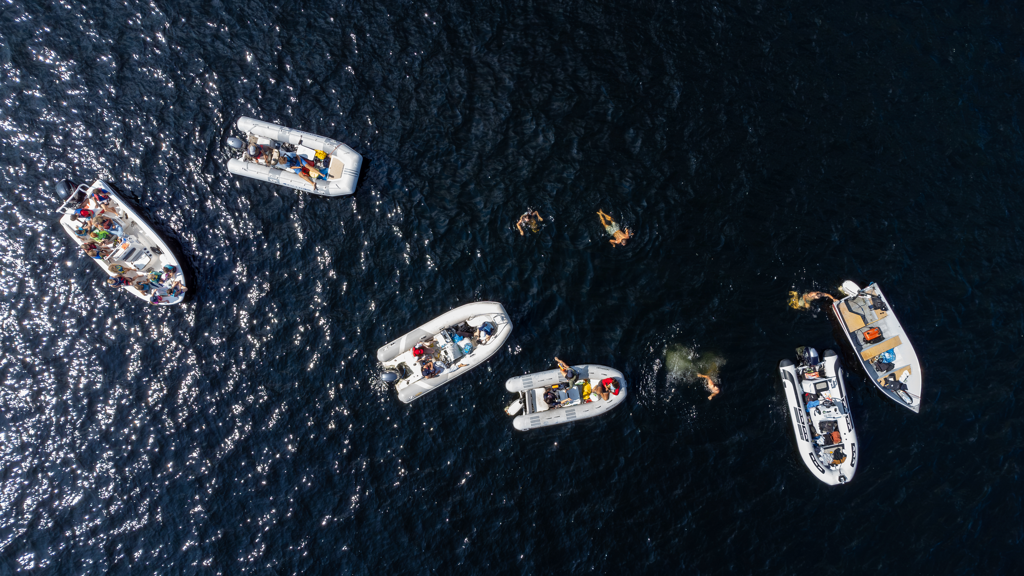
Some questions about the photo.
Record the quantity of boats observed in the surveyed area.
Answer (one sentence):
The photo contains 6 boats.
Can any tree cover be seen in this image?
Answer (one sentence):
No, there is no tree cover in the image.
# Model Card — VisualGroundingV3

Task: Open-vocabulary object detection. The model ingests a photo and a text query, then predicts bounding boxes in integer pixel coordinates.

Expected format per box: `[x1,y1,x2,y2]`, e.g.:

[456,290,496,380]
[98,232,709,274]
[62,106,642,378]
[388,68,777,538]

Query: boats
[227,116,363,196]
[780,346,858,484]
[56,179,188,305]
[506,364,627,431]
[377,301,511,404]
[830,280,923,414]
